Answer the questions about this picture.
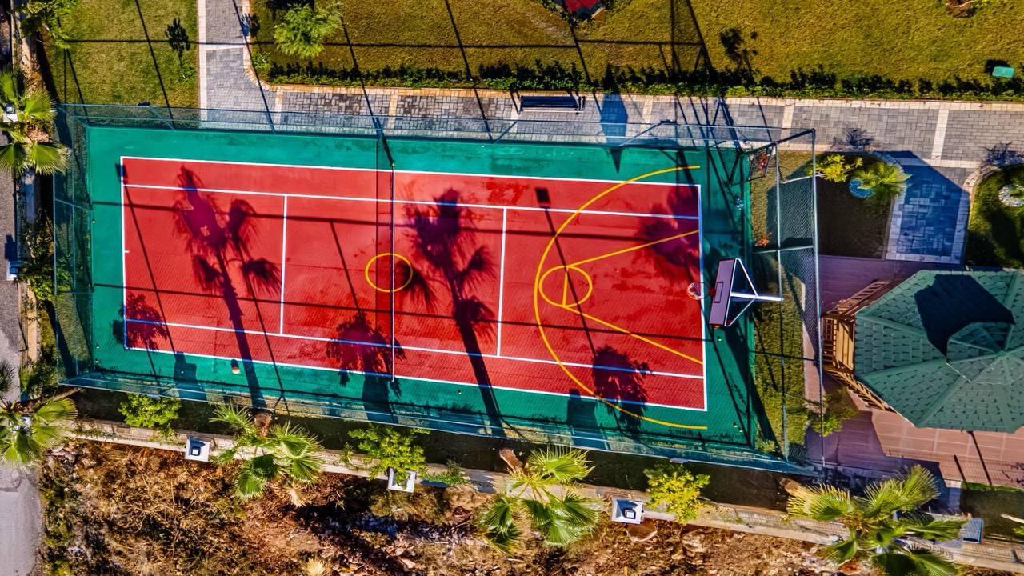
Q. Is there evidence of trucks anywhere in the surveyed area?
No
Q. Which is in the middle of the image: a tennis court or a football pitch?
tennis court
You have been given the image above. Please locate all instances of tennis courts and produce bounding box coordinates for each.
[91,129,757,451]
